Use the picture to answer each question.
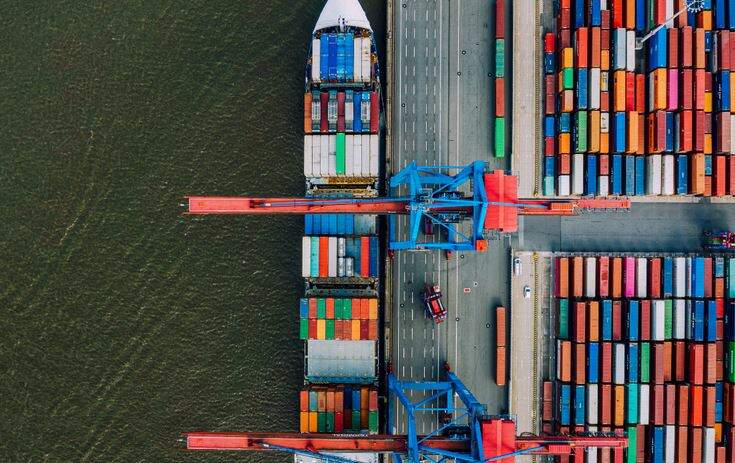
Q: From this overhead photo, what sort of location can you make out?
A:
port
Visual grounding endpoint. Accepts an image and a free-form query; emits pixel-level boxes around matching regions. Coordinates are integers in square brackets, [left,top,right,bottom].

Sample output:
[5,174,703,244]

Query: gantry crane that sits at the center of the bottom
[179,359,629,463]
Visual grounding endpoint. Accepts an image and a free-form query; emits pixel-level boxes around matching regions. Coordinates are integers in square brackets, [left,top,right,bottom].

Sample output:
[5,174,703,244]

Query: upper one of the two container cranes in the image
[179,158,630,258]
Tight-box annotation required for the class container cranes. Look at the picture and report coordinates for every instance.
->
[179,359,629,463]
[179,158,630,258]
